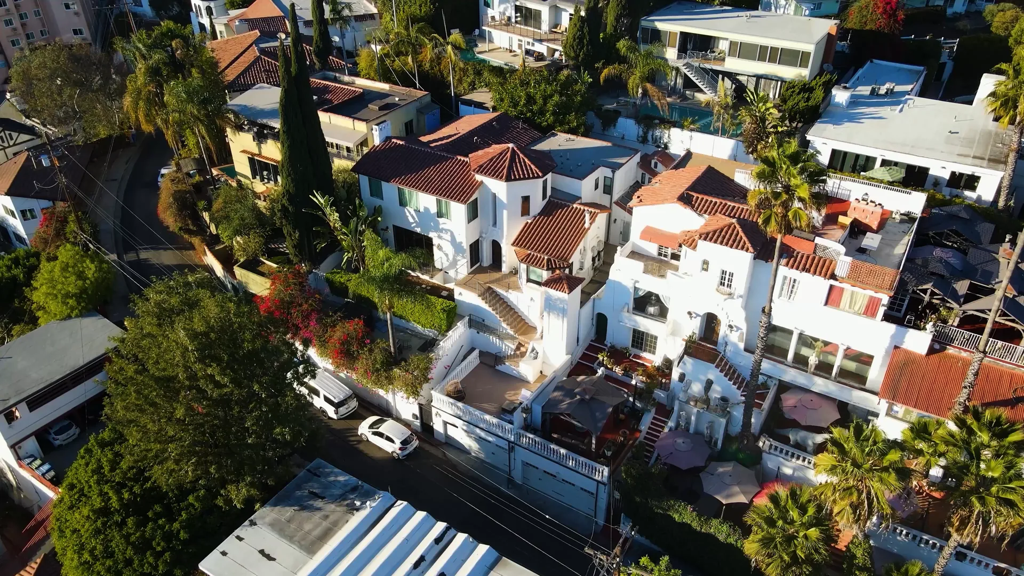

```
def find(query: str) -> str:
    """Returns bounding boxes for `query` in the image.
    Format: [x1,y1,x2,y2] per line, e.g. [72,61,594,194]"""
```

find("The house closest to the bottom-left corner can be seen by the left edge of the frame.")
[0,310,131,474]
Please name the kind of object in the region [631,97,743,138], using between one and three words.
swimming pool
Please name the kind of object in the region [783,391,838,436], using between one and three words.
umbrella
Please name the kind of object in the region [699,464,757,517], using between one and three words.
umbrella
